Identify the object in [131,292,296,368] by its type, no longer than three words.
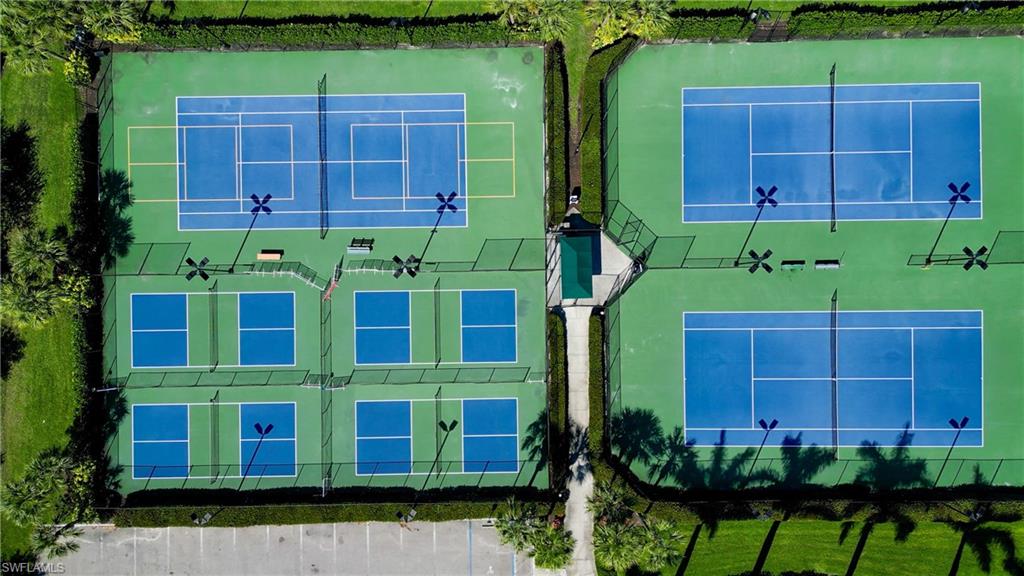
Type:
sports court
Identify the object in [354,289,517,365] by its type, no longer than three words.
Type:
sports court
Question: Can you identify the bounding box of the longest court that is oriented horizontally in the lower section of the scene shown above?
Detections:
[683,310,984,447]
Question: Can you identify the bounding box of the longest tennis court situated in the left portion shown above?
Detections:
[176,93,468,230]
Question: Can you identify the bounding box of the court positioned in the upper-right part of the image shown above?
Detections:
[682,82,982,223]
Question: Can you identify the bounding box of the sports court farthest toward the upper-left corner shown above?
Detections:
[128,125,293,202]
